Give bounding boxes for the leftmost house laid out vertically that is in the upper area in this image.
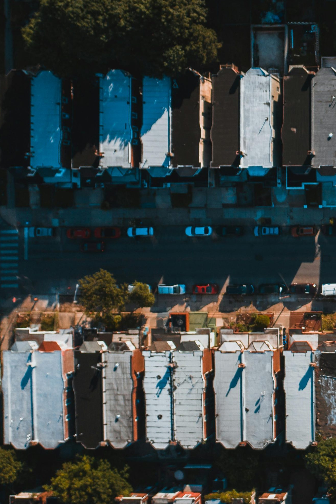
[0,69,57,195]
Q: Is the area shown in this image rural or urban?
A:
urban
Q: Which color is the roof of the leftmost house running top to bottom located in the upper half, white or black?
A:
black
